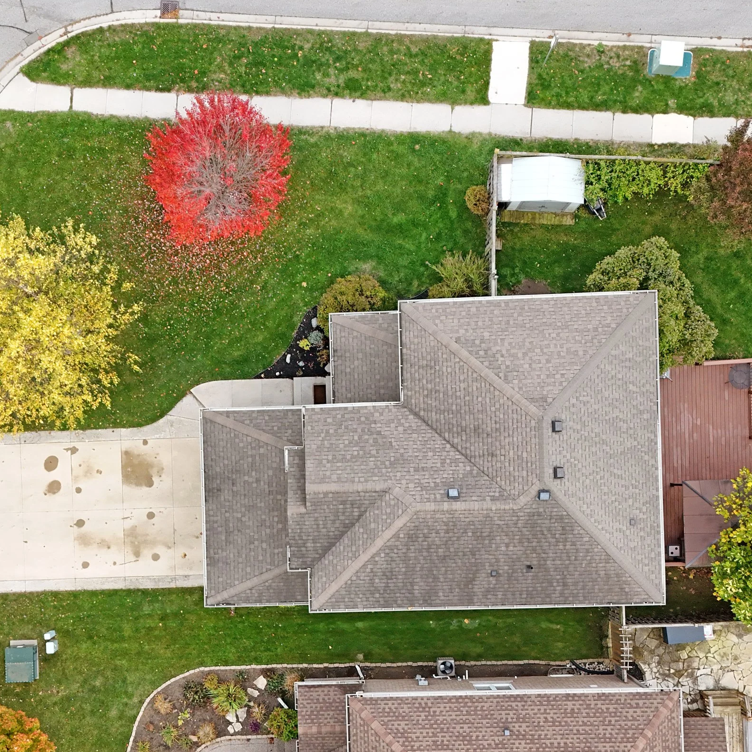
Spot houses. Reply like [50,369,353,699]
[279,665,728,752]
[201,289,665,613]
